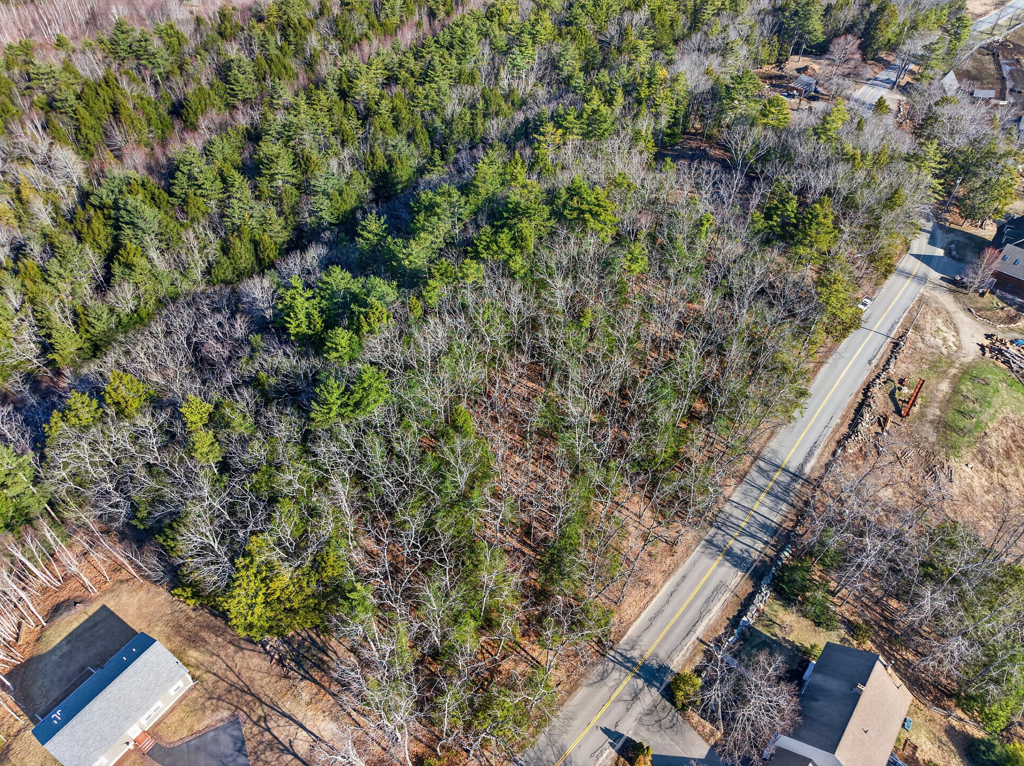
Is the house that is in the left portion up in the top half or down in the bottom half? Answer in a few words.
bottom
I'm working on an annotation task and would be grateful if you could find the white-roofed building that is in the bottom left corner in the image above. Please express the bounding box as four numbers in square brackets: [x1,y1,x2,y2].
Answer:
[30,630,202,766]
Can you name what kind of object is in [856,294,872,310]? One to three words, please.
car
